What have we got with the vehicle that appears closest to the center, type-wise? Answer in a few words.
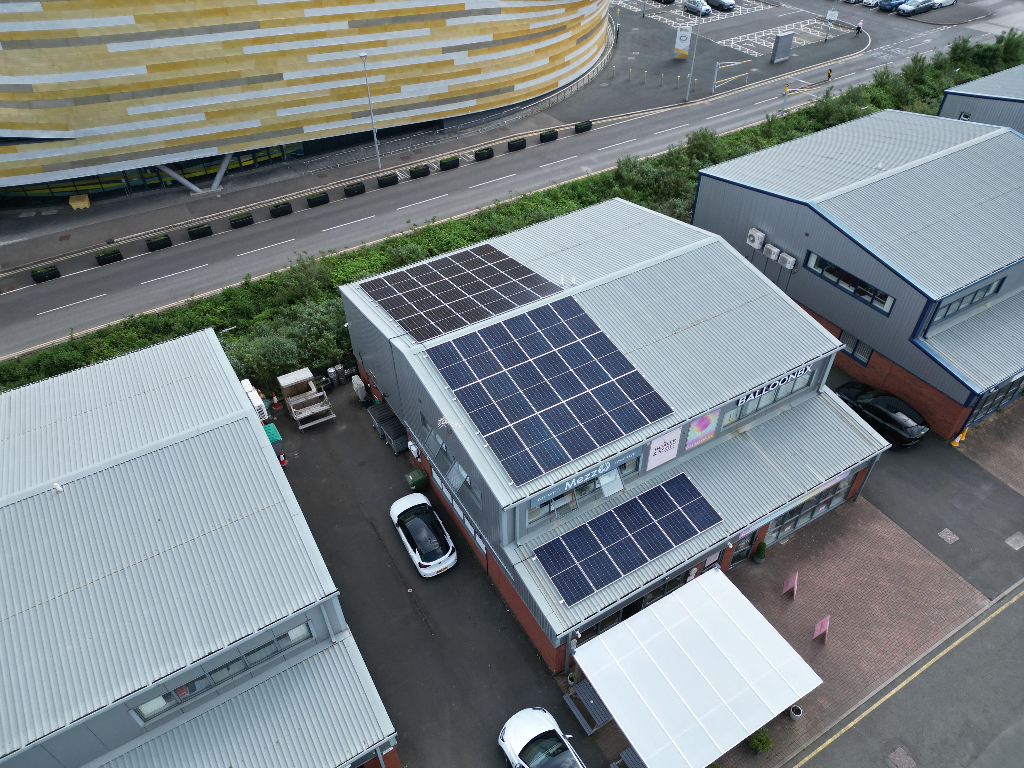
automobile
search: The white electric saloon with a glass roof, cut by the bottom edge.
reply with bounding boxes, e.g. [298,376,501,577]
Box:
[498,707,585,768]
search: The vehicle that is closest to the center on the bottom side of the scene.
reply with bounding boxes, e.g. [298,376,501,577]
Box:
[387,494,459,577]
